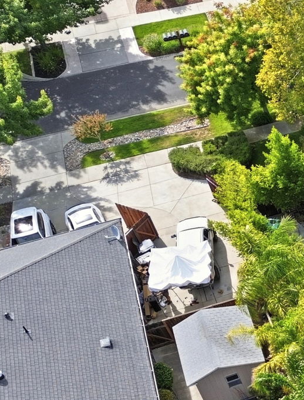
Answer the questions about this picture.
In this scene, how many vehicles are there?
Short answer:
3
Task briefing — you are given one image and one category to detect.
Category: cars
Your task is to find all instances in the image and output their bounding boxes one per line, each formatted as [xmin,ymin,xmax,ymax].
[174,219,223,278]
[68,197,106,231]
[9,206,52,246]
